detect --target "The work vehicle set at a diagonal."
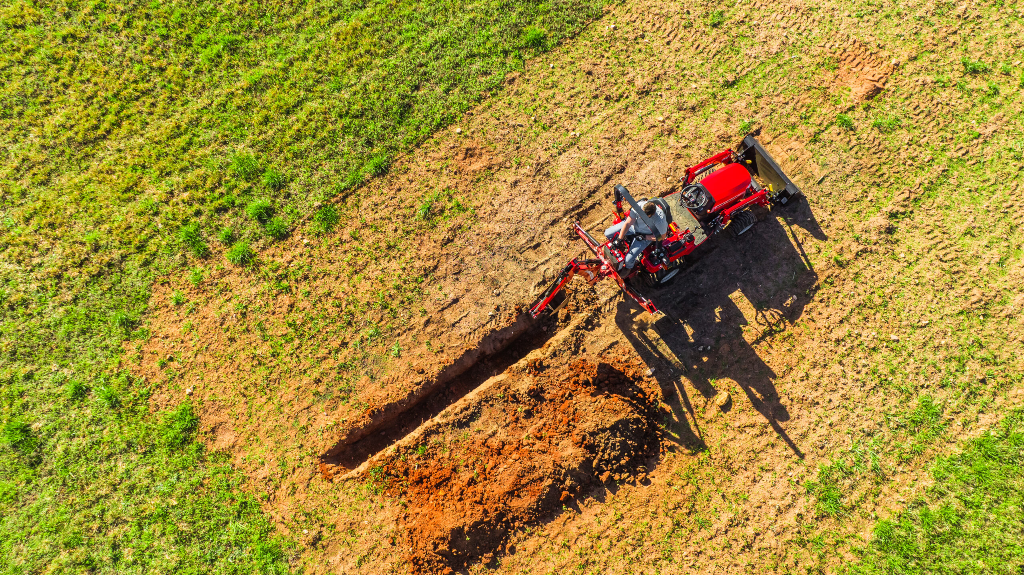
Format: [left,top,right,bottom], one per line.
[523,133,808,326]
